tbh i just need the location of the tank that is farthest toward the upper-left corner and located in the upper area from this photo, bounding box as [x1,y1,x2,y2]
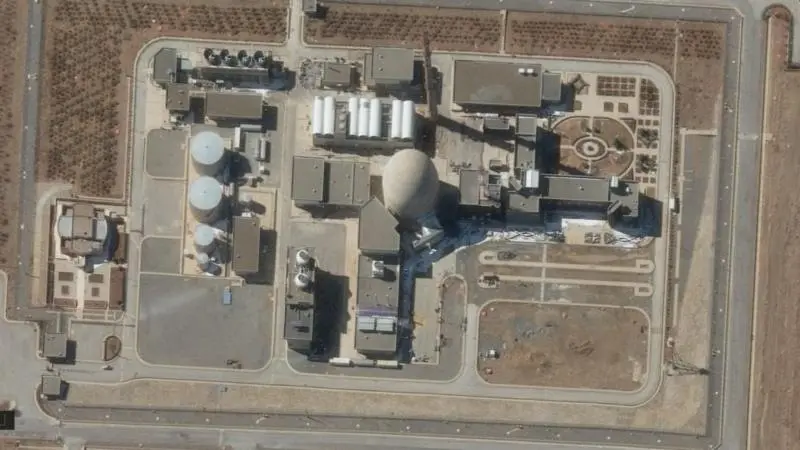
[191,132,225,177]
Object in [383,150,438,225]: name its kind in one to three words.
building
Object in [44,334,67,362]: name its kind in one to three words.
building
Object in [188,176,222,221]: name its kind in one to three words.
storage tank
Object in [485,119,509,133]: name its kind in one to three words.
house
